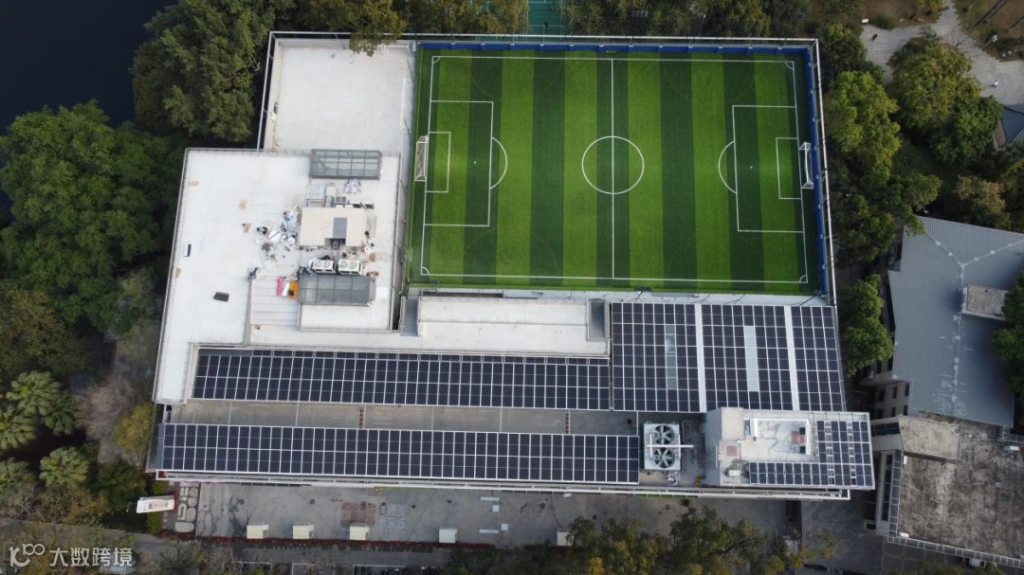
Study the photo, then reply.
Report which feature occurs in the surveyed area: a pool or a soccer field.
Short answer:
soccer field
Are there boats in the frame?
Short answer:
No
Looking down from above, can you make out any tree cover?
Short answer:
Yes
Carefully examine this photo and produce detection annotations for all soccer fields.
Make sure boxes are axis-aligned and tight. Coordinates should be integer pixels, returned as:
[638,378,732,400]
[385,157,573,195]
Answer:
[403,50,818,294]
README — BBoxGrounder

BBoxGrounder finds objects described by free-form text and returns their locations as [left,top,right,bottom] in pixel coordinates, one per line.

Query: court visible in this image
[496,0,590,43]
